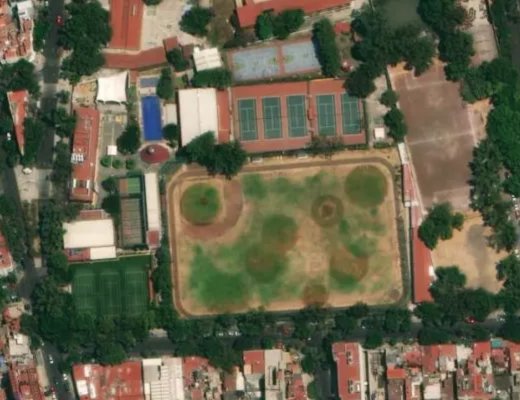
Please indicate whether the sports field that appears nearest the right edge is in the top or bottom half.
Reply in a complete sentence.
You can find the sports field that appears nearest the right edge in the top half.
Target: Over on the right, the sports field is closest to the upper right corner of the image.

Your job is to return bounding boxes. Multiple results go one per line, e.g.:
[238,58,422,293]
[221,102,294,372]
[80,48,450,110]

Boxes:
[388,51,490,214]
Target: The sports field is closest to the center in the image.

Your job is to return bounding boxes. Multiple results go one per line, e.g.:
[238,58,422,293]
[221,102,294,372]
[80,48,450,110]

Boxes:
[164,148,408,322]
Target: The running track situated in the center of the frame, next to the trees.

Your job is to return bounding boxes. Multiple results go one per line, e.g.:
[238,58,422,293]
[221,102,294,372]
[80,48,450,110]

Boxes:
[170,157,402,319]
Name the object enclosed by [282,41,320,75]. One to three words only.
basketball court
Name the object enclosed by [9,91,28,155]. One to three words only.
house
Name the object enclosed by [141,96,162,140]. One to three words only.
swimming pool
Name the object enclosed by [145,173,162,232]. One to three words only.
building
